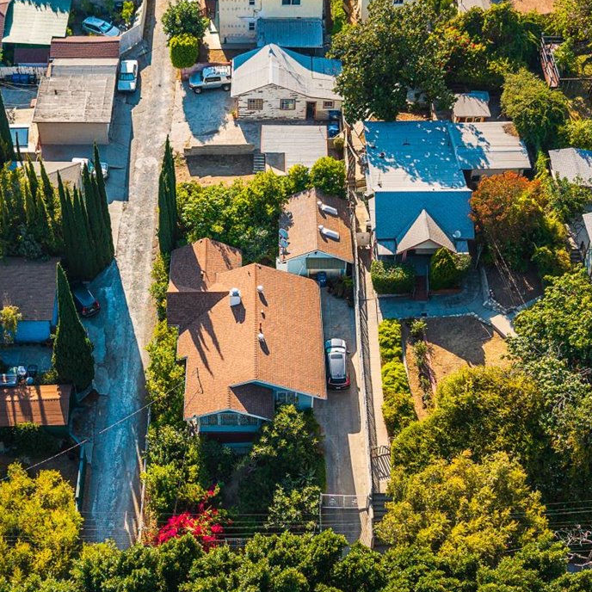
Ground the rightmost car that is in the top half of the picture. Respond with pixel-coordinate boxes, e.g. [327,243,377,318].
[191,68,232,92]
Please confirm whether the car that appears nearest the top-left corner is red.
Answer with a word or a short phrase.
No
